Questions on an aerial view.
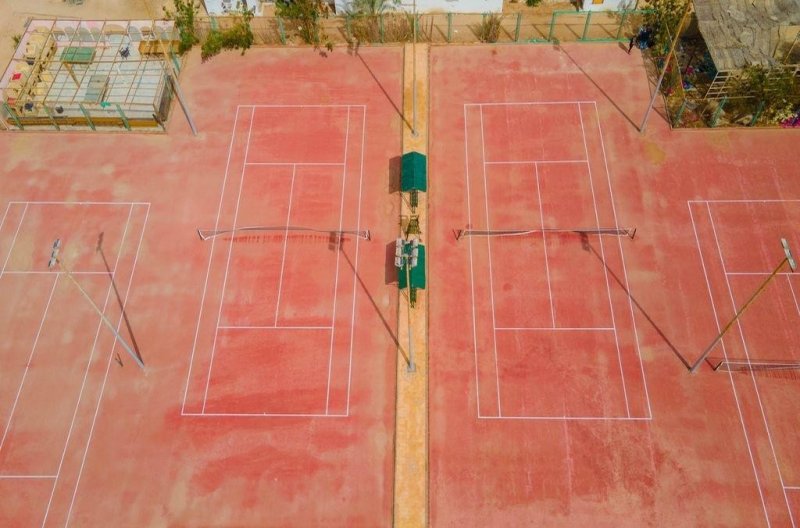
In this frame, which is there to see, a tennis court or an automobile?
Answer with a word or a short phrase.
tennis court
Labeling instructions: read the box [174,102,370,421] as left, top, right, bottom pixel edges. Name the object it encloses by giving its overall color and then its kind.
red tennis court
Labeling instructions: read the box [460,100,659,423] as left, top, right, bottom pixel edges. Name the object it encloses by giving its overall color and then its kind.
red tennis court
